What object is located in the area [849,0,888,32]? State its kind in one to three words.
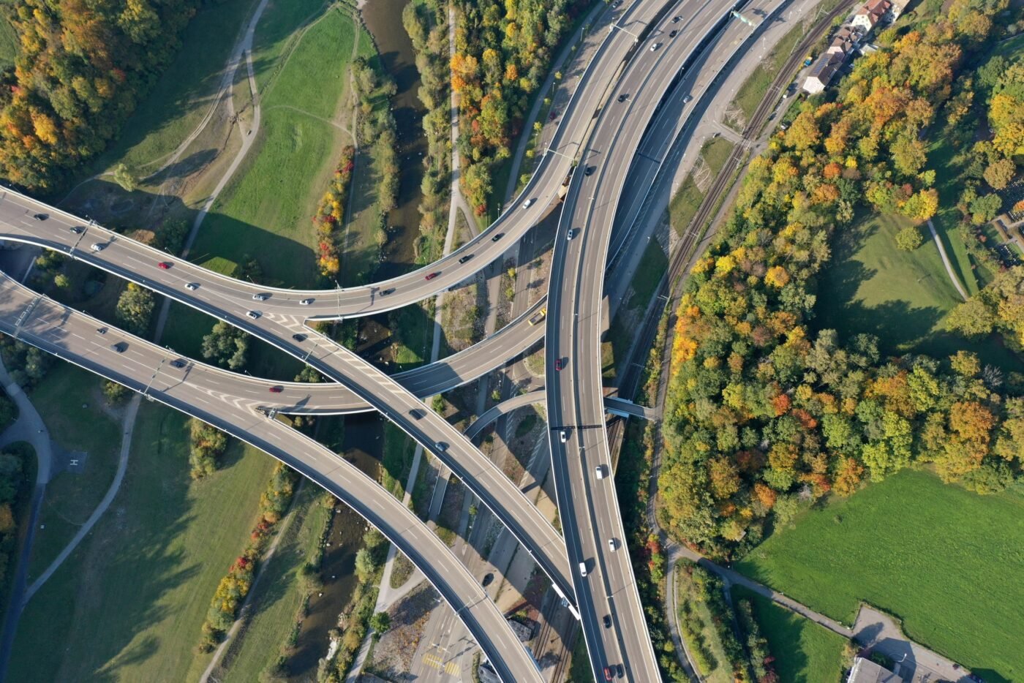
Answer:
house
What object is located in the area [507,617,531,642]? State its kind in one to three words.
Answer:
shed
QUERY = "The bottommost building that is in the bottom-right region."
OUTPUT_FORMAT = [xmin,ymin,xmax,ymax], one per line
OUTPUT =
[846,655,903,683]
